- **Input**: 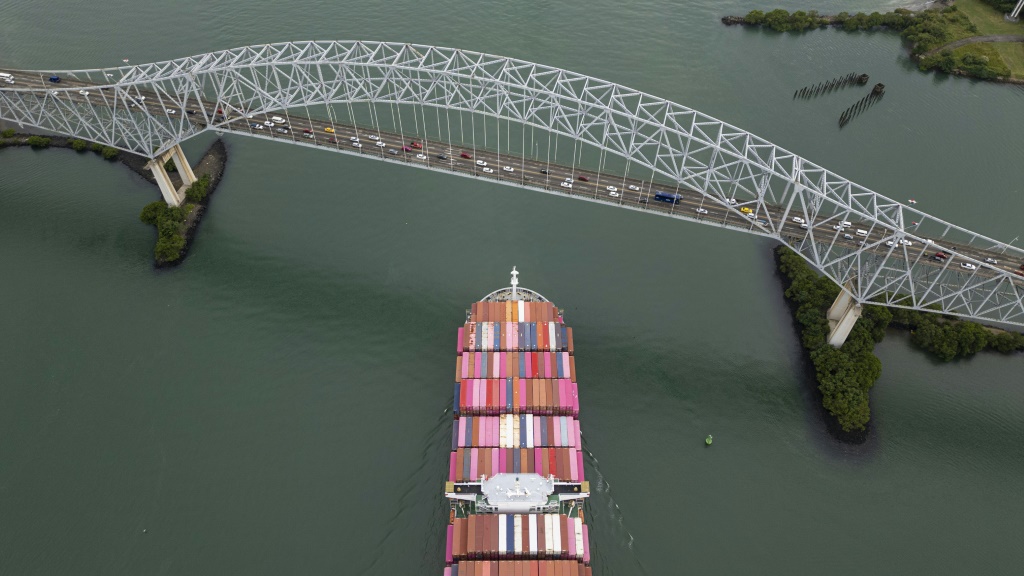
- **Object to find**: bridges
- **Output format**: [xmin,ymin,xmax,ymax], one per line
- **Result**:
[0,40,1024,347]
